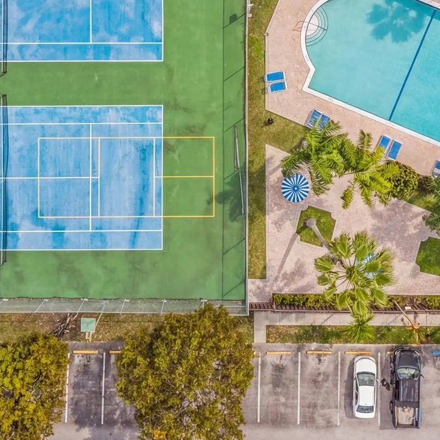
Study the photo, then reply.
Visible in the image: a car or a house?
car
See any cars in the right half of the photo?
Yes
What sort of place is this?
sports ground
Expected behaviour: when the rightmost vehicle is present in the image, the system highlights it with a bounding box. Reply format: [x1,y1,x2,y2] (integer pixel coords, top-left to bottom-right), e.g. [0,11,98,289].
[393,348,427,431]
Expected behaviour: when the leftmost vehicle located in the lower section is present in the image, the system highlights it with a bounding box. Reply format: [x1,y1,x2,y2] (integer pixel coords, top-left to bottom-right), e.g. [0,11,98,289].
[352,358,381,424]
